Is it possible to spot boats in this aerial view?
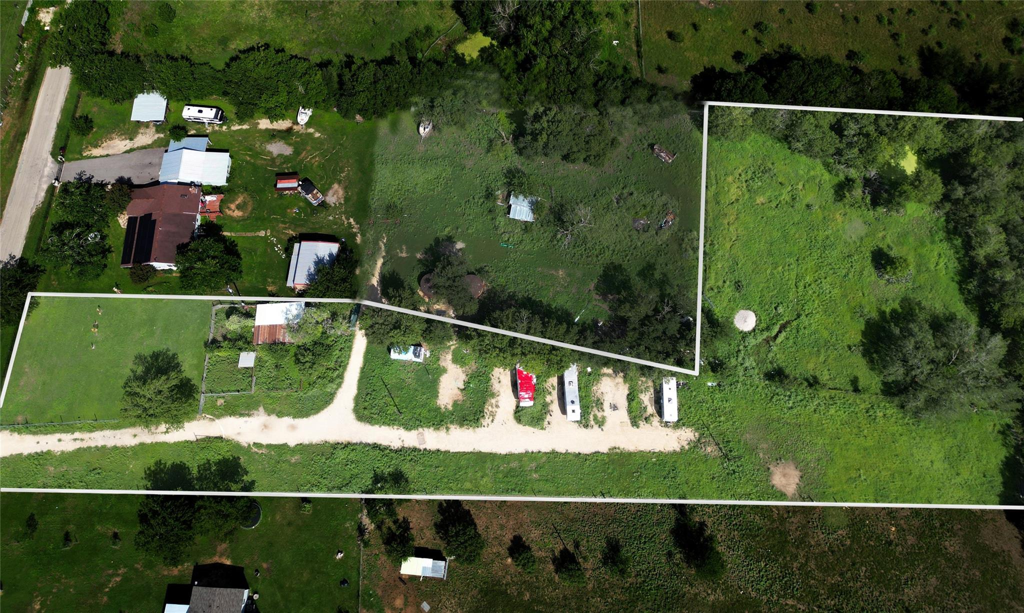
Yes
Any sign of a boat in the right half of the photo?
No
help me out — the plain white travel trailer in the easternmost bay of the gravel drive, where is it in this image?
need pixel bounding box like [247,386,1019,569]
[659,379,678,430]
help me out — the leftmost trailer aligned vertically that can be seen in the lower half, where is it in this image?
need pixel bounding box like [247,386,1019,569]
[515,367,535,414]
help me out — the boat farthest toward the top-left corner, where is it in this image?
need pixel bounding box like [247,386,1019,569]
[298,105,310,125]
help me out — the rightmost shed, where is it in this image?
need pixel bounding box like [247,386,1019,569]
[507,191,535,227]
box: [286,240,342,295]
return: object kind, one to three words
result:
barn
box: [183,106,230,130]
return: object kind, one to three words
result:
trailer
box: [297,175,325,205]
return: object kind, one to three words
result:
boat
